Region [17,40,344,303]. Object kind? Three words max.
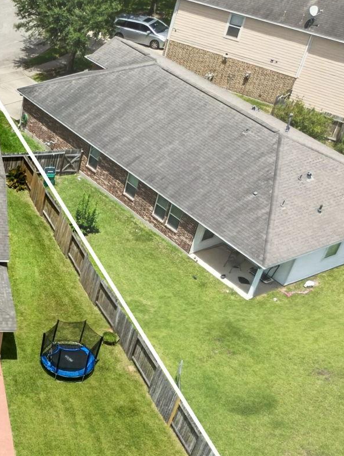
house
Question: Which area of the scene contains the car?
top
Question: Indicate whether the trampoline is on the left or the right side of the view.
left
